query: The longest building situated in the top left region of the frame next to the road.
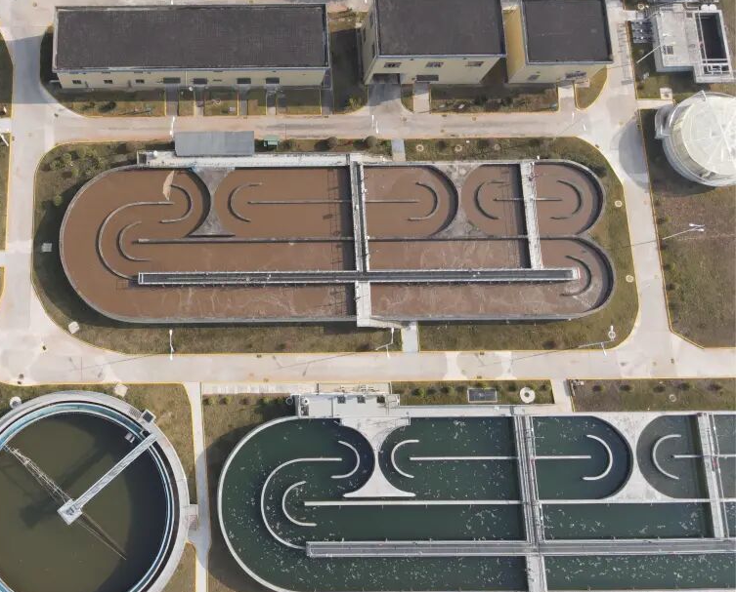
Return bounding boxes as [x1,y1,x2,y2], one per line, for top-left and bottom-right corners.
[54,2,334,103]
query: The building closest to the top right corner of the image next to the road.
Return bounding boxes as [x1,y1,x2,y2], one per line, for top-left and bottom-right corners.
[505,0,612,94]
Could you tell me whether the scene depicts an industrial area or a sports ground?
industrial area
